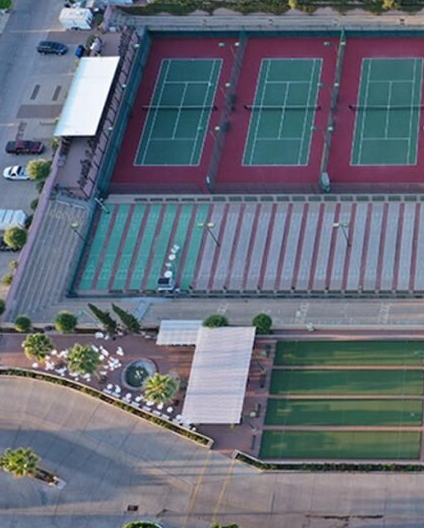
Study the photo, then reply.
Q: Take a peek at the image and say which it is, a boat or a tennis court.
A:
tennis court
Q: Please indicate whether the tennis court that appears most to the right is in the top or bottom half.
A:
top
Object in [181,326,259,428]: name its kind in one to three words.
building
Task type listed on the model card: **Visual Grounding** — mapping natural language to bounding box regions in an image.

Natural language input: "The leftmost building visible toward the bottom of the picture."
[155,321,201,351]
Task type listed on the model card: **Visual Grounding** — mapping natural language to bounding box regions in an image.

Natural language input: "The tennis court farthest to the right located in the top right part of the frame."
[327,35,424,186]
